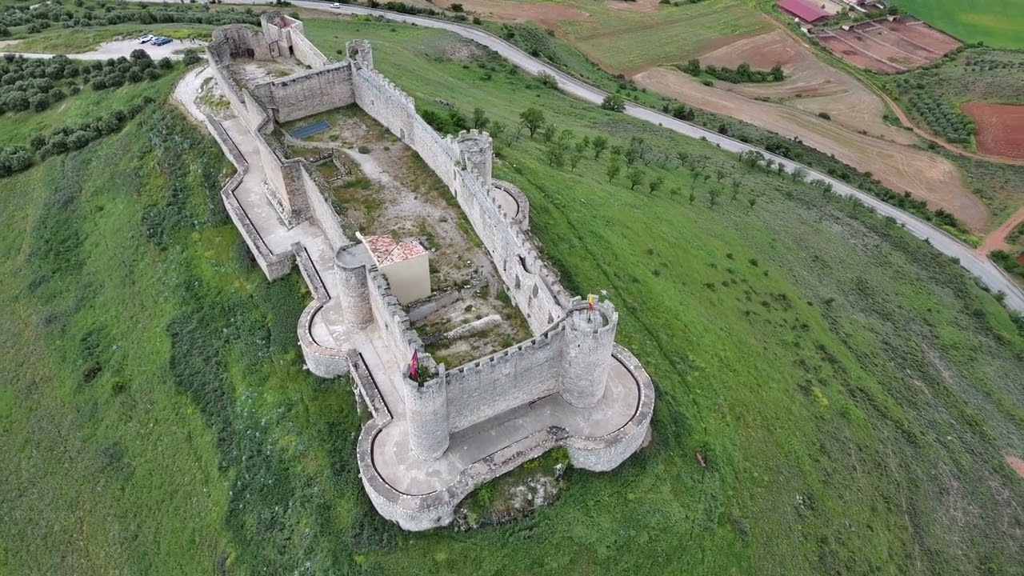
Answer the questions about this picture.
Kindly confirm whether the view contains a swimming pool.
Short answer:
No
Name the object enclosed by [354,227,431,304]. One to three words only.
house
